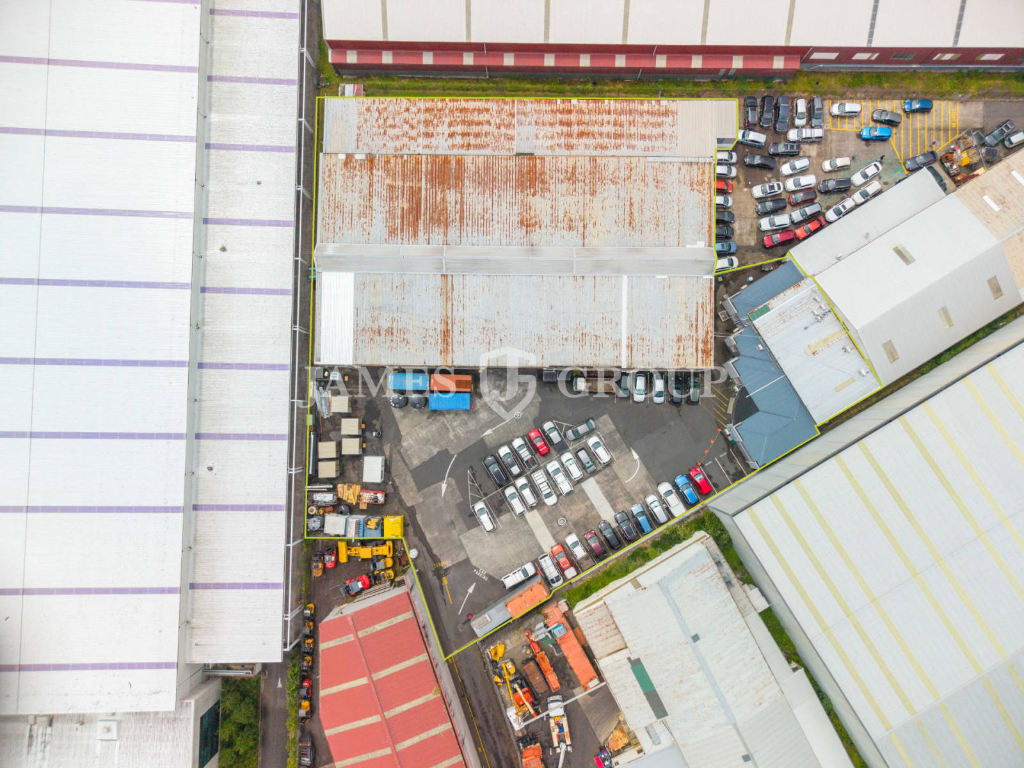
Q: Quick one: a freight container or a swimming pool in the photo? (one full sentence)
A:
Of the two, only a freight container appears.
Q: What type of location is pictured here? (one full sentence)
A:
What you see here is an industrial area.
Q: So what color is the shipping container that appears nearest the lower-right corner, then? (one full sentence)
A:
From above, the shipping container that appears nearest the lower-right corner appears orange.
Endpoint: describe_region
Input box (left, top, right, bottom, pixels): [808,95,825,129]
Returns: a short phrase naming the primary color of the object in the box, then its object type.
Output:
gray car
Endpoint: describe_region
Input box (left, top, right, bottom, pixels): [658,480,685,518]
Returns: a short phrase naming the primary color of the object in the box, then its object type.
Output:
white truck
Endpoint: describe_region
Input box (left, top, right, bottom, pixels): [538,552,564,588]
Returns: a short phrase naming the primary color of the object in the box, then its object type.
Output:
white vehicle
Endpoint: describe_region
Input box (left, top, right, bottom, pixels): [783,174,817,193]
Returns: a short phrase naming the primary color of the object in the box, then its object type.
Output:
white car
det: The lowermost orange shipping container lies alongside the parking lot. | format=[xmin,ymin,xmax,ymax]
[541,595,600,688]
